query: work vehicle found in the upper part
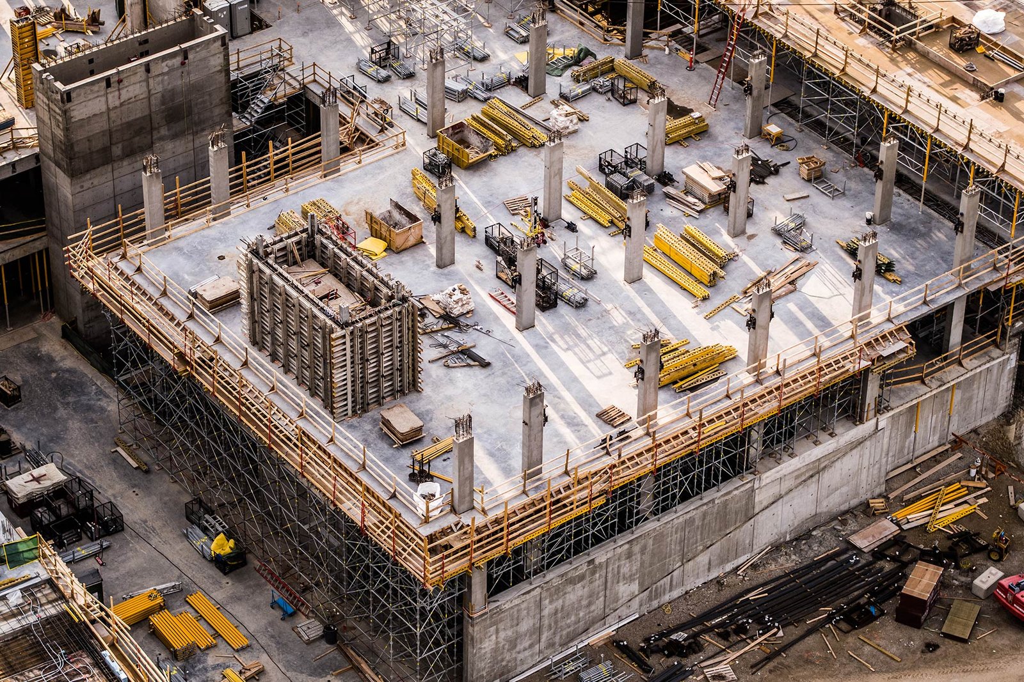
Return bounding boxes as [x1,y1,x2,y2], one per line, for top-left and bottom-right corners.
[516,199,549,248]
